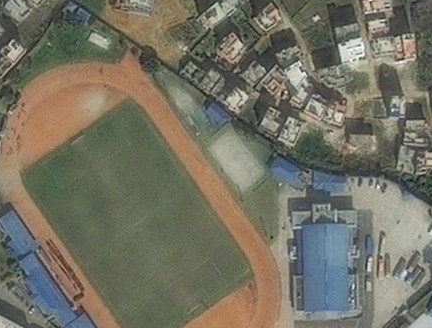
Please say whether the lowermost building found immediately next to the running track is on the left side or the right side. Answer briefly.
right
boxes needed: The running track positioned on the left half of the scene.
[0,49,282,328]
